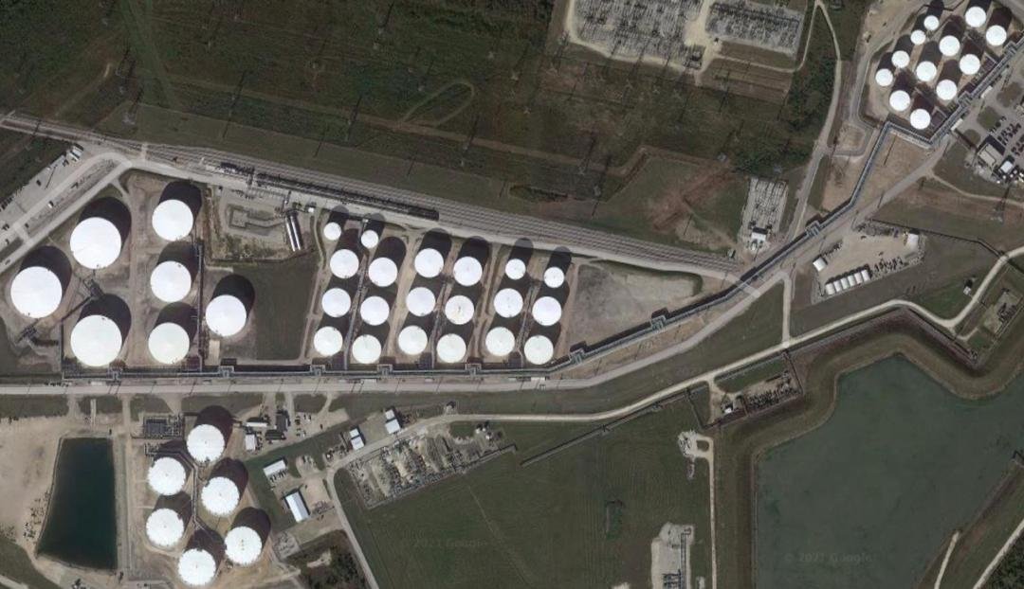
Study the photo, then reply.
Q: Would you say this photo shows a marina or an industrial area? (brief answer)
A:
industrial area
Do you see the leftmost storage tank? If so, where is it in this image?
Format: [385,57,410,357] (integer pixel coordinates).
[11,266,64,318]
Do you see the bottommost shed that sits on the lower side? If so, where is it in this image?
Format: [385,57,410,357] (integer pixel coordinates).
[285,492,309,522]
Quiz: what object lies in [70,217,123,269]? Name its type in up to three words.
storage tank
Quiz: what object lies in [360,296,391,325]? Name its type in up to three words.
storage tank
